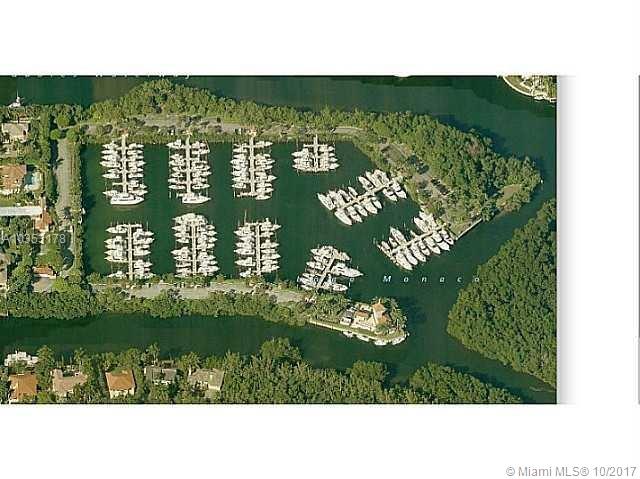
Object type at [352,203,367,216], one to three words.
boat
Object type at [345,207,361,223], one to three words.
boat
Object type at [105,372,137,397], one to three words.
house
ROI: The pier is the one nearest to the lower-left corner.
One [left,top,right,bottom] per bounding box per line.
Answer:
[114,224,145,285]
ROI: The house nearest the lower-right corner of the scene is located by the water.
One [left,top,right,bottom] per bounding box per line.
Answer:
[354,302,394,331]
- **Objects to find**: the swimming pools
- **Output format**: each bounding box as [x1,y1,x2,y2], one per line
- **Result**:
[27,174,41,187]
